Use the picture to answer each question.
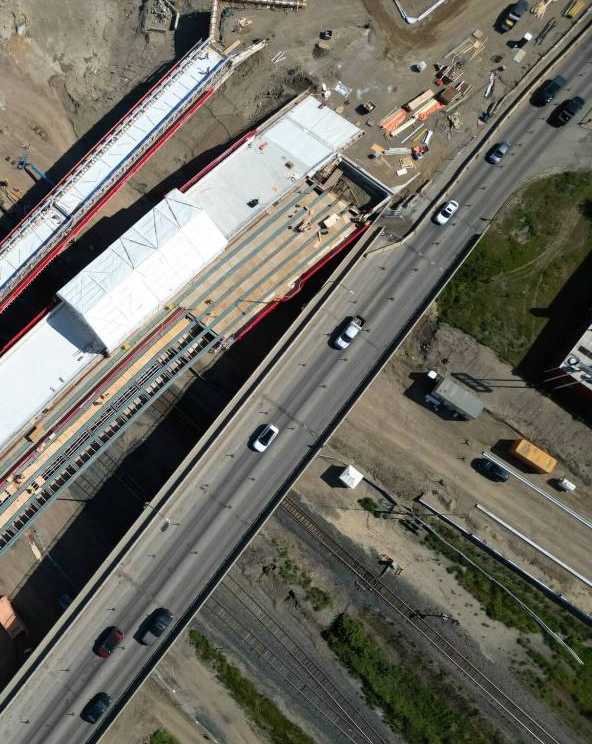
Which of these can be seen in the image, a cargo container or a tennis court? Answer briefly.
cargo container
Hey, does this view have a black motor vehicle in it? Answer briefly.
Yes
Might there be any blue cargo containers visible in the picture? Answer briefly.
No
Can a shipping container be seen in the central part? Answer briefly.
No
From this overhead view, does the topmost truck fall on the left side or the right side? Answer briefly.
right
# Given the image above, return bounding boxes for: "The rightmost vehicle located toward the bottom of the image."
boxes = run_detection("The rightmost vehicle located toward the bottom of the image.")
[560,475,581,493]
